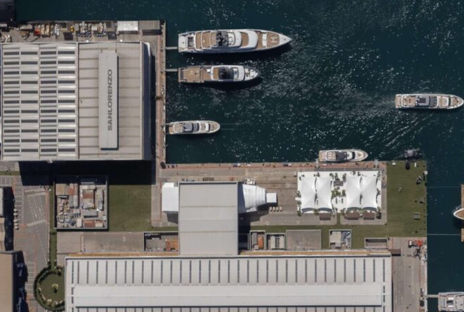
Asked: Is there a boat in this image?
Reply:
Yes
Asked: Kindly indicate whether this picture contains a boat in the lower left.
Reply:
No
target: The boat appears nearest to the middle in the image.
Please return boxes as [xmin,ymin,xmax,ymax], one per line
[170,120,220,133]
